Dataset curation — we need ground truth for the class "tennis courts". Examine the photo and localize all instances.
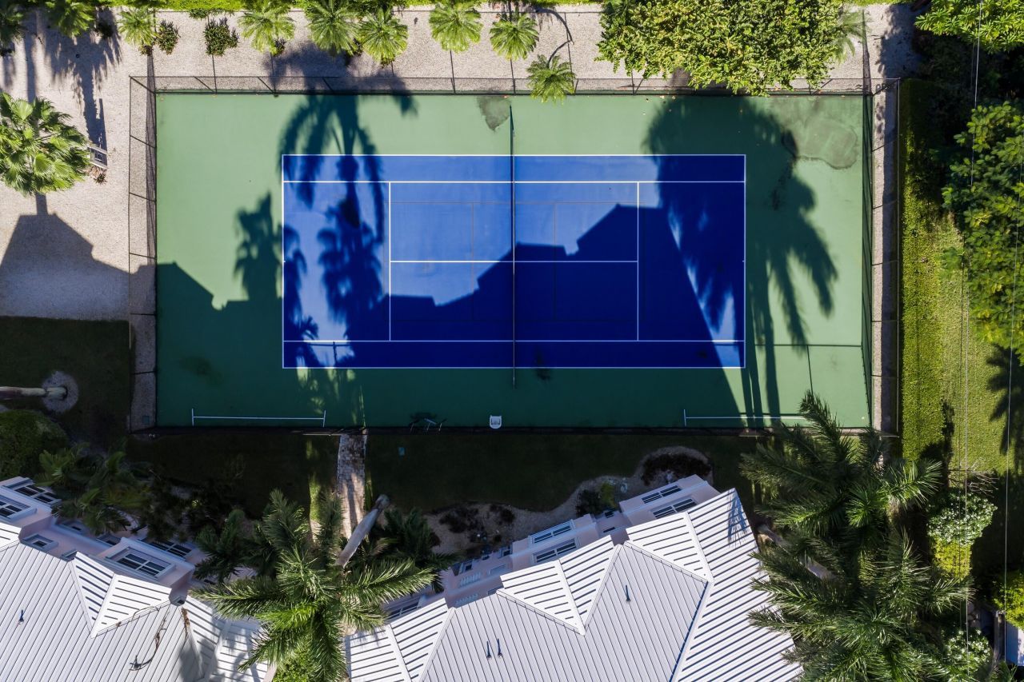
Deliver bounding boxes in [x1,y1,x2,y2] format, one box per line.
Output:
[155,89,873,427]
